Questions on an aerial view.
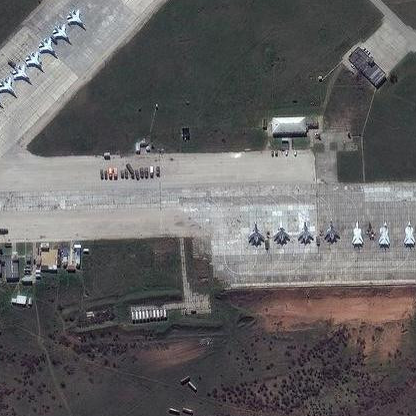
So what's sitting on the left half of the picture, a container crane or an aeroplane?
aeroplane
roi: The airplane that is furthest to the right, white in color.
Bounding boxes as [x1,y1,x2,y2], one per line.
[404,223,416,245]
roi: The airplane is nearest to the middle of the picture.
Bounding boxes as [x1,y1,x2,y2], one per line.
[248,222,264,245]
